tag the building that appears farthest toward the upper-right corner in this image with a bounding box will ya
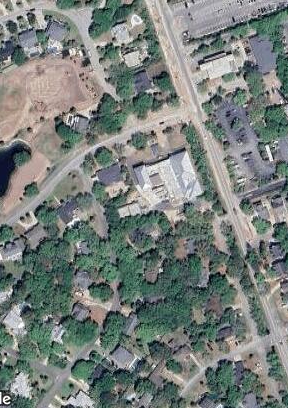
[248,36,279,74]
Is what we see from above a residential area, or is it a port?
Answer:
residential area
